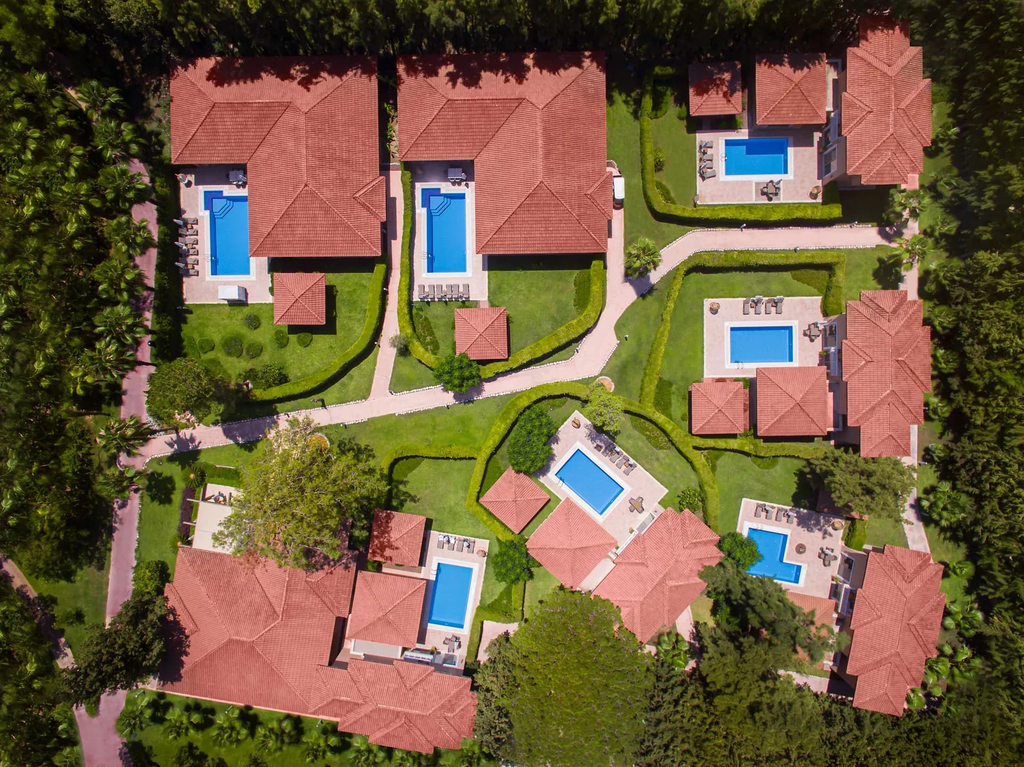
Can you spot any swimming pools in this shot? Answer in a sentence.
Yes, looking at the shot, I can spot a swimming pool.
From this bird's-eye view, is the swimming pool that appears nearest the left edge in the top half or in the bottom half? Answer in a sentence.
It is in the top half that the swimming pool that appears nearest the left edge appears.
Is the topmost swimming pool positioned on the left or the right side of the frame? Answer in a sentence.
The topmost swimming pool is on the right side of the image.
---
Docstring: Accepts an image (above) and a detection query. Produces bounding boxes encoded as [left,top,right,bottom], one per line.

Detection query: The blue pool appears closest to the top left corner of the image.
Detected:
[199,185,256,281]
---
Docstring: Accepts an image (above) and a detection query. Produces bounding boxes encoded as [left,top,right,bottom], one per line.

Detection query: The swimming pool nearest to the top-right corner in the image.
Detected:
[720,132,794,180]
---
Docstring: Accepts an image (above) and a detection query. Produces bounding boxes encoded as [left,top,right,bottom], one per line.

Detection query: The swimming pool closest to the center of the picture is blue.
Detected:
[549,442,631,522]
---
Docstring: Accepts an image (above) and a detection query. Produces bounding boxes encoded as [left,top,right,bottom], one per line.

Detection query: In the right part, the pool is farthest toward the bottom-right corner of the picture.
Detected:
[740,522,808,590]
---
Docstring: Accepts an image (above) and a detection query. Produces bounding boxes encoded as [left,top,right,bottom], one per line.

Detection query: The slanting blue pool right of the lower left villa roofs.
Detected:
[423,557,479,635]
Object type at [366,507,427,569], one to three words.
building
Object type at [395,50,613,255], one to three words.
house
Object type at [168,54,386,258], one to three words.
house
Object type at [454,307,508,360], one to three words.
building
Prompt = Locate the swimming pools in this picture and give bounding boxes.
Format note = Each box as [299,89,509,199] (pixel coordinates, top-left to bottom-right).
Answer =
[199,185,256,281]
[740,522,808,590]
[725,321,798,368]
[549,442,631,522]
[423,557,479,635]
[720,132,794,180]
[416,183,471,278]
